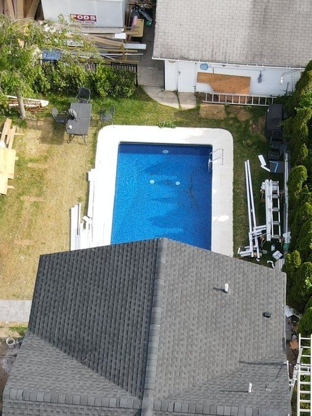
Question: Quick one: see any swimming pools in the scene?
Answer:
Yes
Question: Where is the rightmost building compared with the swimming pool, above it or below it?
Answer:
above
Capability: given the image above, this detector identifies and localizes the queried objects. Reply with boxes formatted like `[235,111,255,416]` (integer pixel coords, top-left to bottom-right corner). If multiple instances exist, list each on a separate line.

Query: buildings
[1,237,293,416]
[152,0,311,97]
